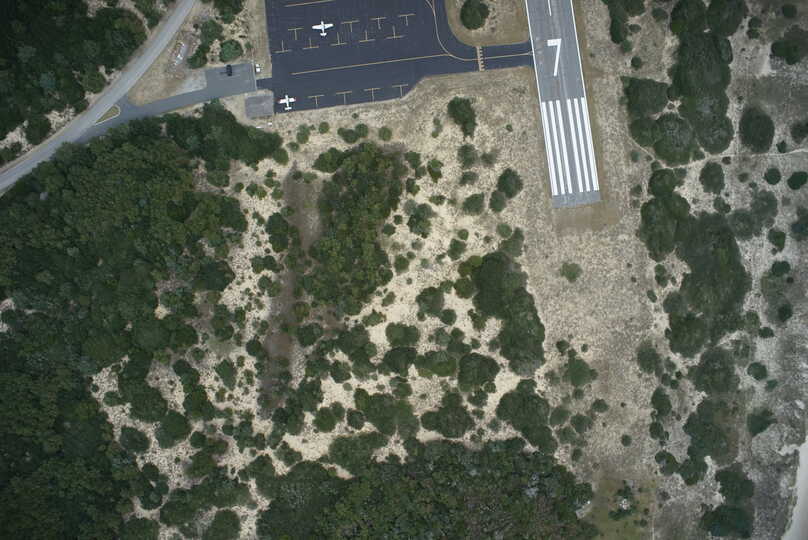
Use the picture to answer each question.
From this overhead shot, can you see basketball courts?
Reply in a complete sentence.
No, no basketball court can be seen from above.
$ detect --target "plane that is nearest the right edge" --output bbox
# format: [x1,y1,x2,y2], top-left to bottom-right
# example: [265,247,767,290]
[312,19,334,35]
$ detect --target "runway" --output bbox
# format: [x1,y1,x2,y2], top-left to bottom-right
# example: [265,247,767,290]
[525,0,598,197]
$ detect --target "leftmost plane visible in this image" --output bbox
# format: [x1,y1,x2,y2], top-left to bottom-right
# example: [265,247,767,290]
[277,93,297,108]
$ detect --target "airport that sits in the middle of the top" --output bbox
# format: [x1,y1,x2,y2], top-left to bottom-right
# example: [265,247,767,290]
[256,0,600,208]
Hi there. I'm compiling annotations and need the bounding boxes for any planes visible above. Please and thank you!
[312,19,334,35]
[277,93,297,108]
